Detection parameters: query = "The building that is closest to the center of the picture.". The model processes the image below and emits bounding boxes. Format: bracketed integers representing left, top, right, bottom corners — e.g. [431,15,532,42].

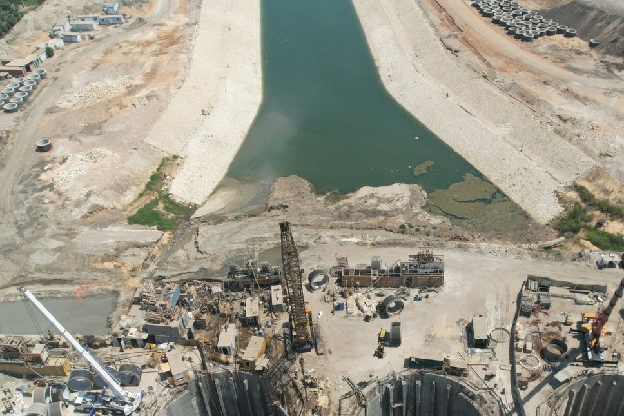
[272,285,288,316]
